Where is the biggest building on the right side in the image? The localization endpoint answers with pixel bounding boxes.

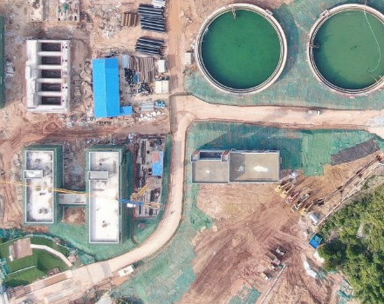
[191,148,280,183]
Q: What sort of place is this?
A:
industrial area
